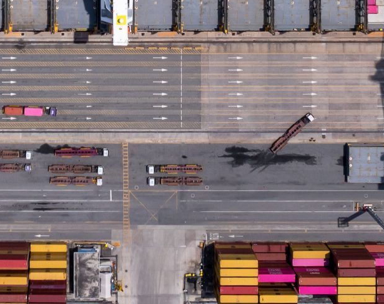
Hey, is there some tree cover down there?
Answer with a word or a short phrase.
No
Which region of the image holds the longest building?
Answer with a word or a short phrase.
bottom left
